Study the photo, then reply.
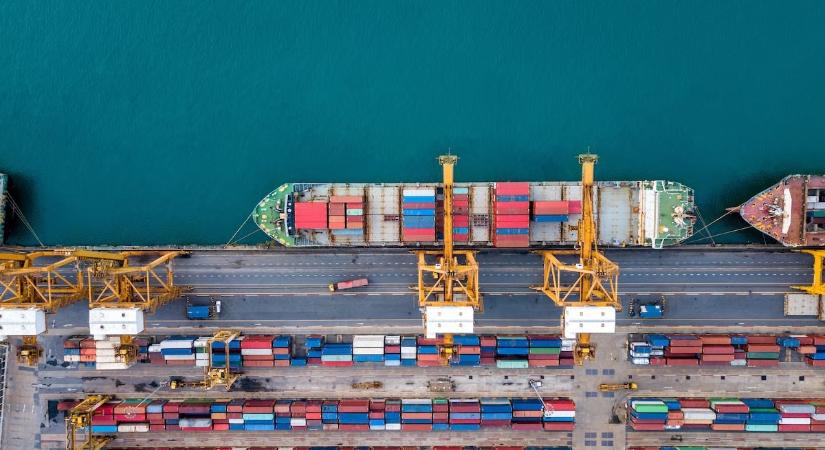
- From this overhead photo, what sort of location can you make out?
port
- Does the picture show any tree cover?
No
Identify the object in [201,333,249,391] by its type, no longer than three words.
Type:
container crane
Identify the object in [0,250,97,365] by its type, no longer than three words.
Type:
container crane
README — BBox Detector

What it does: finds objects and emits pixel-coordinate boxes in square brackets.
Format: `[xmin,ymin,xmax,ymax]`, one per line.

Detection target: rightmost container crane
[795,251,825,297]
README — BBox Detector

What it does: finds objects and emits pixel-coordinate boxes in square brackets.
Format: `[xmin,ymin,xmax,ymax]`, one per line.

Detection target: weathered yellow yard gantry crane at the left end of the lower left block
[66,394,120,450]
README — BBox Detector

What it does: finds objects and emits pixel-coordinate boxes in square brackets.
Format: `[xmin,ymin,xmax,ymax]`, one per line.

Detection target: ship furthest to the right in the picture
[723,175,825,247]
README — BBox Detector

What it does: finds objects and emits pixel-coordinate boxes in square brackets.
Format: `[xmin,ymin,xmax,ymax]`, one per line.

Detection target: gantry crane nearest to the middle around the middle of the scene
[407,155,487,365]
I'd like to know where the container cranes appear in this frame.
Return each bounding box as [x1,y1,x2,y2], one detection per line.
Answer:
[41,248,189,365]
[0,250,97,365]
[795,251,825,297]
[532,147,624,365]
[66,394,120,450]
[407,155,487,365]
[201,333,249,391]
